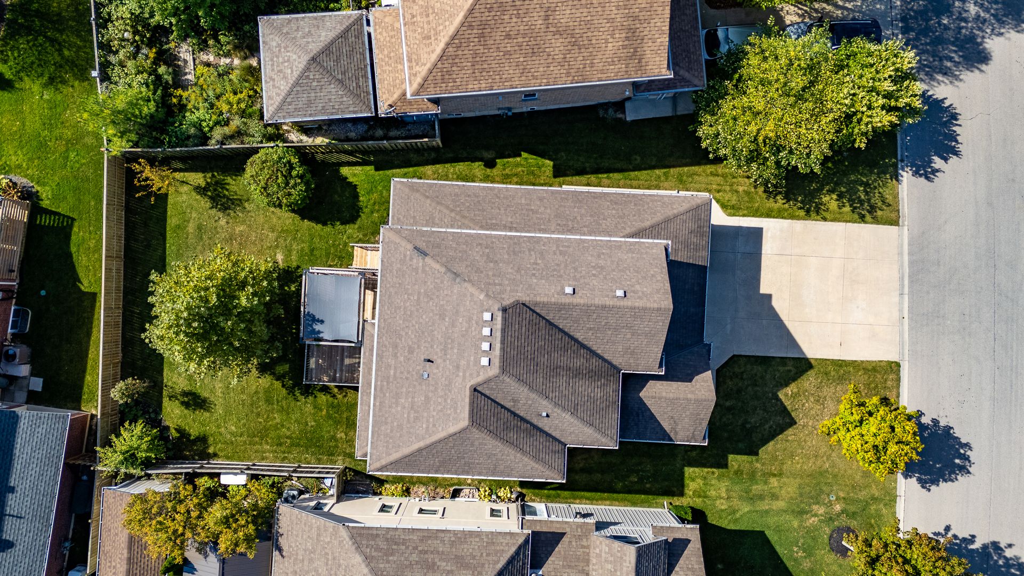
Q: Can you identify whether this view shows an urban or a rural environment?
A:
urban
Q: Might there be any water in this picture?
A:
No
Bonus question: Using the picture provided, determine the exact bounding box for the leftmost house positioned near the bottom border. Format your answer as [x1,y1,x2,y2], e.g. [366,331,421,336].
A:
[0,393,91,576]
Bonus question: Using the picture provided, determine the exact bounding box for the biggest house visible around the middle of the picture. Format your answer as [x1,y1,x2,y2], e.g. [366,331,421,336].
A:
[354,176,716,485]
